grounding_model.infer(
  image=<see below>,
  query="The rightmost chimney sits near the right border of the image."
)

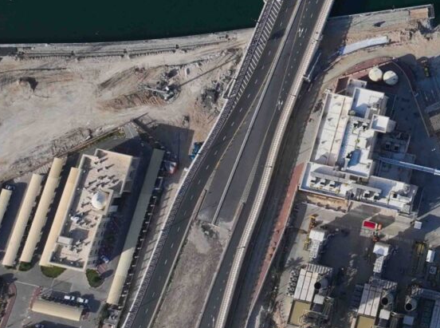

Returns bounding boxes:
[403,297,420,312]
